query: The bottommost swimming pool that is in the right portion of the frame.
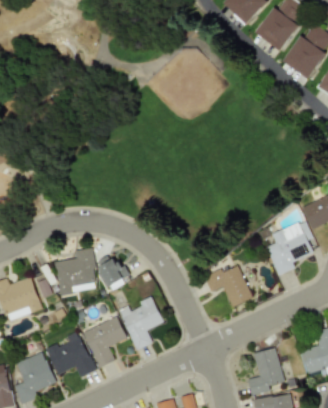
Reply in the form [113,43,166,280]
[260,266,274,288]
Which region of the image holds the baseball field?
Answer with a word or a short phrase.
center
